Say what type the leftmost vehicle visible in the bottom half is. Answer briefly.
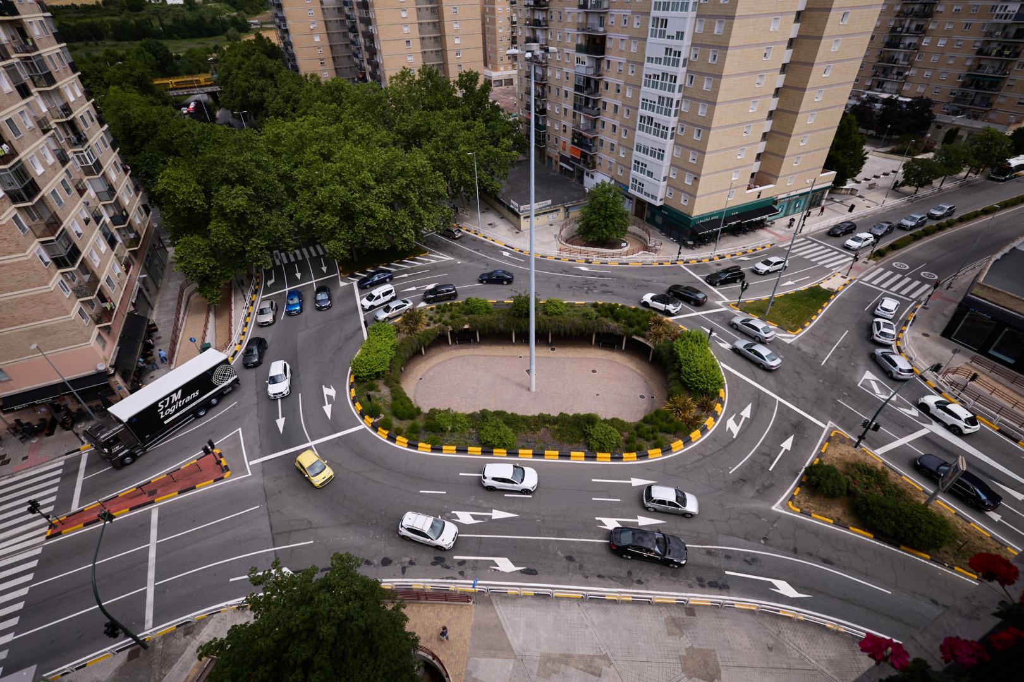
truck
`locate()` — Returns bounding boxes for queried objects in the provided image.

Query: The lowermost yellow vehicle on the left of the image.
[294,449,332,489]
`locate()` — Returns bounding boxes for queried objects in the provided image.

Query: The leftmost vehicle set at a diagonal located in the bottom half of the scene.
[76,349,242,473]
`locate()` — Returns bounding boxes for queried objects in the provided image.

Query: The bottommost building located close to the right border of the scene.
[941,223,1024,372]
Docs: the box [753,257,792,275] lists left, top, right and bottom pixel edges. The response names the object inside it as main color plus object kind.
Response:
white car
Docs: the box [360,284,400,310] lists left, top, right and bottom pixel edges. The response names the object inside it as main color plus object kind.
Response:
white vehicle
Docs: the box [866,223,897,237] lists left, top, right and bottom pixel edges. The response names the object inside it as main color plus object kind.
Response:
gray car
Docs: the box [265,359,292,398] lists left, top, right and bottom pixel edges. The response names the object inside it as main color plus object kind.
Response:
white car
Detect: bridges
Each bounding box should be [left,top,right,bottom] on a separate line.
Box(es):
[159,80,246,102]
